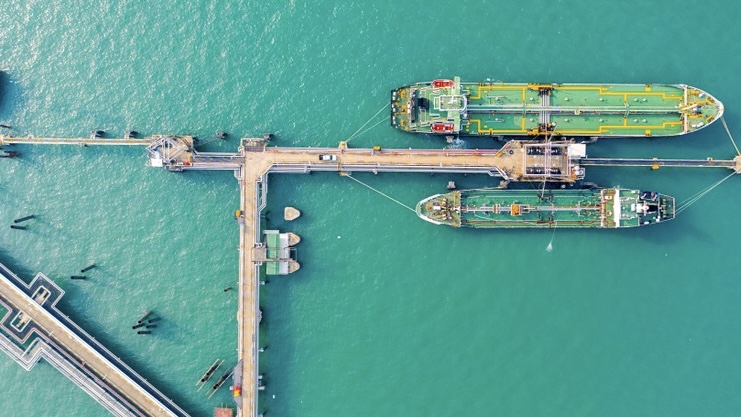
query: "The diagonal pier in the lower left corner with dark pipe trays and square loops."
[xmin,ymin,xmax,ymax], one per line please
[0,264,195,417]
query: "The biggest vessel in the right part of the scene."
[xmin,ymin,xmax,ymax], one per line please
[391,76,724,138]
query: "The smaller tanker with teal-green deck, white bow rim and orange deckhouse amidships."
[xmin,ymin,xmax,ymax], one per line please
[417,189,674,228]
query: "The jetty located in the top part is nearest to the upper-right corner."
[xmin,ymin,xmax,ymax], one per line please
[261,145,499,177]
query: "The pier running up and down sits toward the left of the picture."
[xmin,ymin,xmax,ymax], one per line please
[229,138,273,417]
